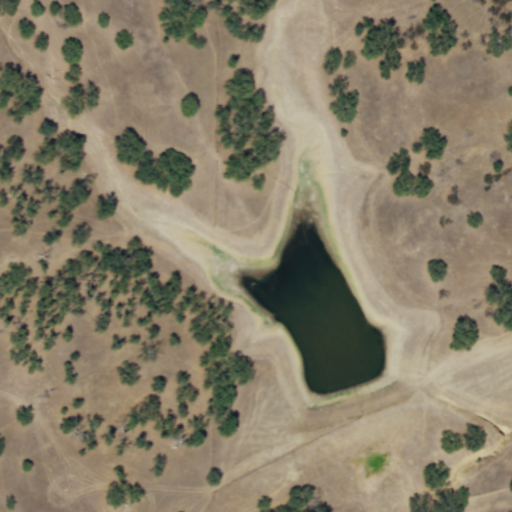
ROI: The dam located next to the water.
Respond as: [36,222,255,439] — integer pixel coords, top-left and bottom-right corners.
[274,370,419,474]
